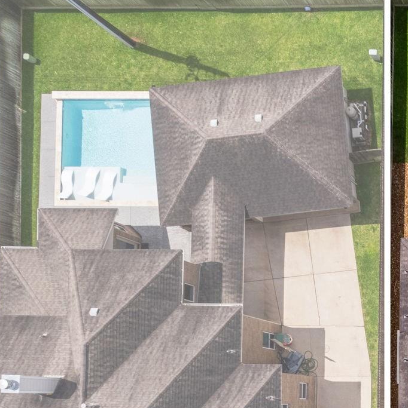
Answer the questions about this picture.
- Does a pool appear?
Yes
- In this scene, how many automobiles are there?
zero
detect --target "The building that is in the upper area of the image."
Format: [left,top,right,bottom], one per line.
[148,65,370,236]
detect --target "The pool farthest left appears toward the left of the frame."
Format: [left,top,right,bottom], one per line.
[53,92,159,207]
